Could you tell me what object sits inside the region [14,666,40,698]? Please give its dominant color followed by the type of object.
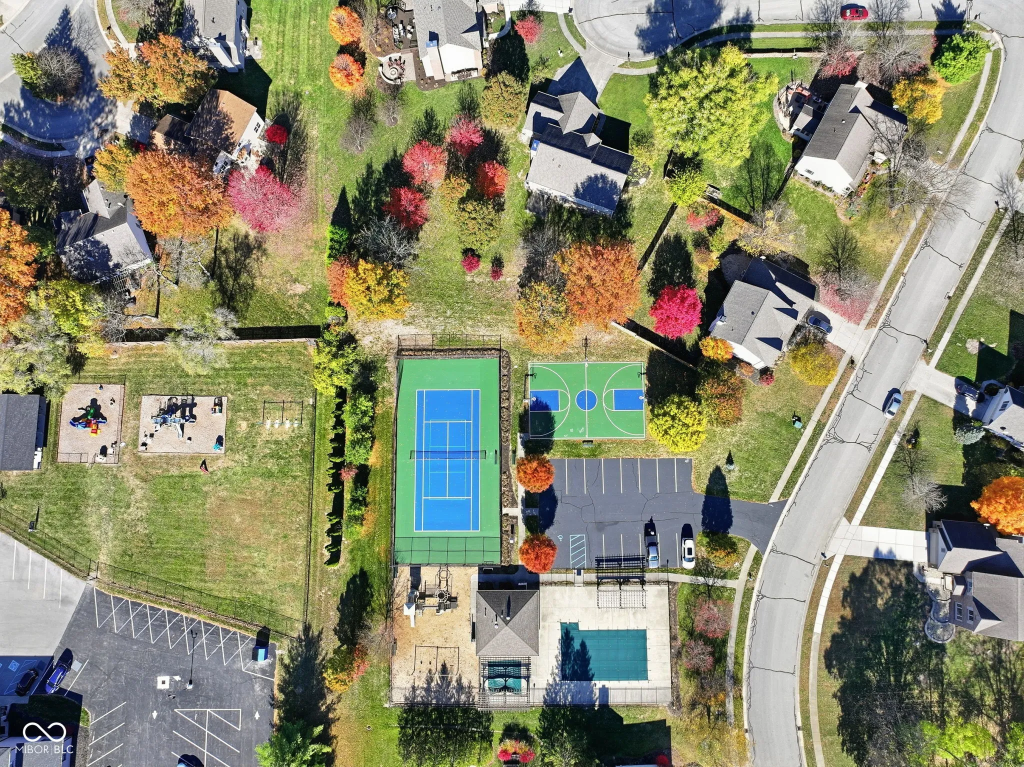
black car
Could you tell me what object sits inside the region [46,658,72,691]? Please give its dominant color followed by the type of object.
blue car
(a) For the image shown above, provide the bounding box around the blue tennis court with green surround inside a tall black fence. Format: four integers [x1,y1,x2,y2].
[394,357,501,566]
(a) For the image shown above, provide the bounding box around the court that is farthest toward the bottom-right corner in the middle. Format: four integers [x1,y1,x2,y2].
[529,362,646,439]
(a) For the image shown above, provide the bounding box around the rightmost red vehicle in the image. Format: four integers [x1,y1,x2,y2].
[840,8,867,21]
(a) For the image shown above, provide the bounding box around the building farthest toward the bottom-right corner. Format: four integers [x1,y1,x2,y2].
[928,519,1024,639]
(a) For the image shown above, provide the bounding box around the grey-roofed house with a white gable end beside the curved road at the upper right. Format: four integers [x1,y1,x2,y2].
[790,77,915,200]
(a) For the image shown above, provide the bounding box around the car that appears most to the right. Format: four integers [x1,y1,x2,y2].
[953,383,985,405]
